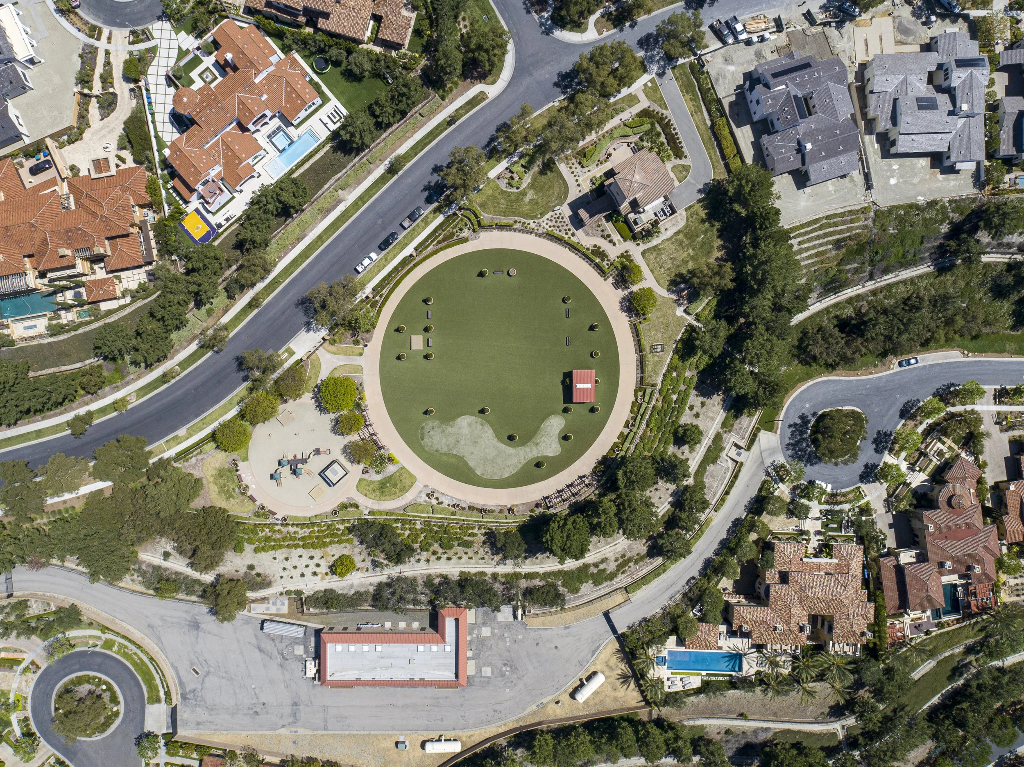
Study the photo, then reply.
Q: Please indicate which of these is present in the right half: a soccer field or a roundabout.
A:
roundabout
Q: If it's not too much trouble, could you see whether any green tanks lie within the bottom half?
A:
No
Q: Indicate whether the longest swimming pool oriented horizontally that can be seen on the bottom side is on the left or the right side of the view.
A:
right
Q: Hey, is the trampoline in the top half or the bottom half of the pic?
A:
top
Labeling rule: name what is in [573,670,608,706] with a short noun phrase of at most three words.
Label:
storage tank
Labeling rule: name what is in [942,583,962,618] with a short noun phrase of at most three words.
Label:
swimming pool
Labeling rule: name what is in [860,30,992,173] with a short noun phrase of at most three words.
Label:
house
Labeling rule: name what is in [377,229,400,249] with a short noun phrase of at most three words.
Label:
car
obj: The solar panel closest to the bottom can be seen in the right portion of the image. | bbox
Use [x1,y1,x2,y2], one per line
[916,97,938,109]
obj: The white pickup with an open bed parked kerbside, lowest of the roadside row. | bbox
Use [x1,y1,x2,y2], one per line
[353,250,378,273]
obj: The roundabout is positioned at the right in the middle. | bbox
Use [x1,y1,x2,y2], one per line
[809,405,868,463]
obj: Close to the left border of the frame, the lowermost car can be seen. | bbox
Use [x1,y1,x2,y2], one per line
[25,156,52,174]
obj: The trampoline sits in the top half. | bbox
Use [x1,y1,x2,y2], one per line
[310,51,331,71]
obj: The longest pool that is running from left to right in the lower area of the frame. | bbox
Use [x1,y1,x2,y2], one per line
[666,650,744,674]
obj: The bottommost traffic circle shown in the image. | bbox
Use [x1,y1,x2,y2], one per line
[50,671,124,741]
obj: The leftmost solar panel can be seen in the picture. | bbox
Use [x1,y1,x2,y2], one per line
[771,62,812,77]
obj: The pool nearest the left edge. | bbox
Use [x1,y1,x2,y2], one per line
[0,289,57,320]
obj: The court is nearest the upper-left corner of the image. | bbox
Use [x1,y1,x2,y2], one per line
[178,207,219,245]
